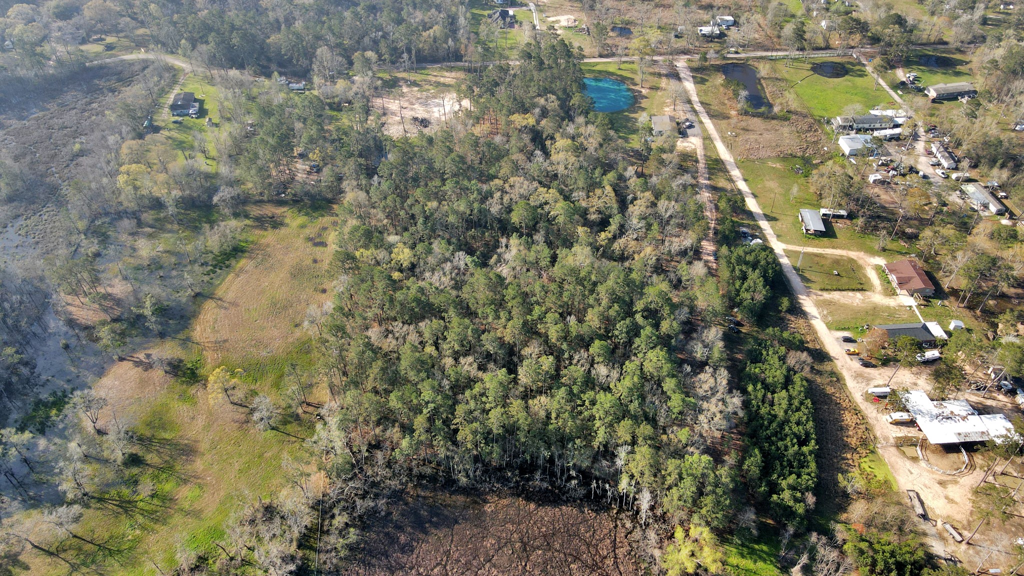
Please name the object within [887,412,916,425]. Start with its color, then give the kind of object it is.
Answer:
white vehicle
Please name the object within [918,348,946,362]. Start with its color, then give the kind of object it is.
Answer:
white camper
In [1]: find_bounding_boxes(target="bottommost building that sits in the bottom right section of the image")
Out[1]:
[894,391,1024,452]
